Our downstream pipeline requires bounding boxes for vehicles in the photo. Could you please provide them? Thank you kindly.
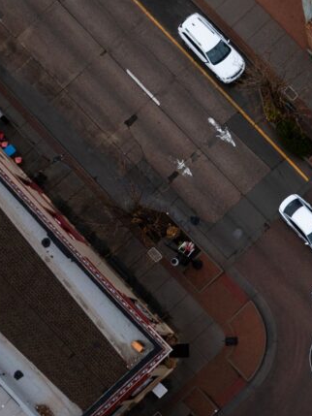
[178,12,247,86]
[280,192,312,250]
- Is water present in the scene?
No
